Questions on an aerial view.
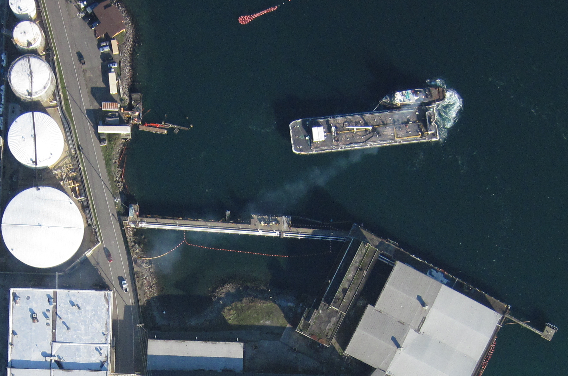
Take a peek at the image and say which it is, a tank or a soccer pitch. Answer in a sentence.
There is a tank in the scene.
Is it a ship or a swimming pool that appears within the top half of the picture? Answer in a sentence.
What appears within the top half of the picture is a ship.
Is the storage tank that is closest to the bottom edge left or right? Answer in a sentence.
The storage tank that is closest to the bottom edge is on the left side of the image.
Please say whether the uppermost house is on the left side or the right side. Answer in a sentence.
You can find the uppermost house on the left side of the picture.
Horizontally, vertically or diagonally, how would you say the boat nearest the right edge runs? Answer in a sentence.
In this picture, the boat nearest the right edge lies horizontally.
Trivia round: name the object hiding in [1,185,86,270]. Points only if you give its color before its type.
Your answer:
white storage tank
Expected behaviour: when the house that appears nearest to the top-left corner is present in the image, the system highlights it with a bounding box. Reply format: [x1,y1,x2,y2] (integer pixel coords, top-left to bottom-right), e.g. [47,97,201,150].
[93,0,126,39]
